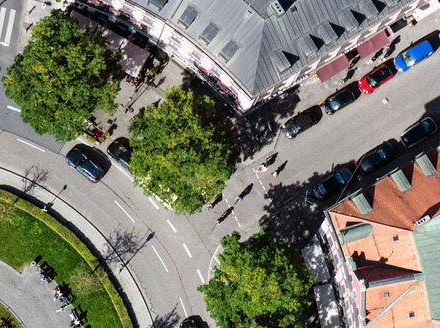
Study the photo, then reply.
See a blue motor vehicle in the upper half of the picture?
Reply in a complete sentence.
Yes, a blue motor vehicle shows up in the upper half of the picture.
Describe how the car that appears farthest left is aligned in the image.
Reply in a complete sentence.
Seen from above, the car that appears farthest left lies at an angle.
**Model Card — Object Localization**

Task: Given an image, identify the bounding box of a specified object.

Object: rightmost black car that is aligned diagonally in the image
[398,115,440,149]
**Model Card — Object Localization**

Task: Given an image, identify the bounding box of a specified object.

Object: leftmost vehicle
[67,147,108,183]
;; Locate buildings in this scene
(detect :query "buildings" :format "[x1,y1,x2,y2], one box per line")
[83,0,428,118]
[321,139,440,328]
